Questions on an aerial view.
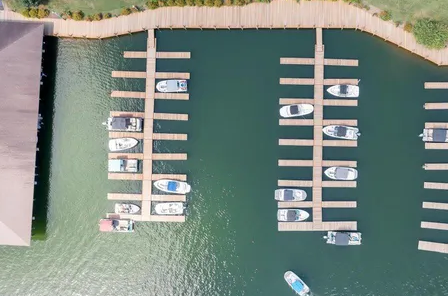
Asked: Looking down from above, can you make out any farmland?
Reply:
No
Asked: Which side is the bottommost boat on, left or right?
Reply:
right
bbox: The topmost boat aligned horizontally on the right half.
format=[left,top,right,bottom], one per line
[327,84,359,97]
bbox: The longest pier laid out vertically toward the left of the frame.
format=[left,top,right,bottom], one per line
[107,28,191,222]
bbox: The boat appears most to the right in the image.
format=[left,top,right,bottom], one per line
[419,128,448,142]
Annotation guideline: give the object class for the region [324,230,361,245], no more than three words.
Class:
boat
